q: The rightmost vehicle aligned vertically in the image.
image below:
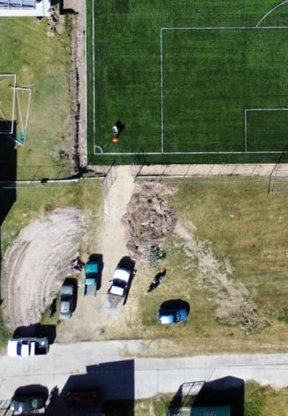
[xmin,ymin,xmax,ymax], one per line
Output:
[105,267,129,315]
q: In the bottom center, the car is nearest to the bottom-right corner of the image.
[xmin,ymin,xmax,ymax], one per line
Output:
[156,304,188,324]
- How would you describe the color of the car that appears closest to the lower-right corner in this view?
blue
